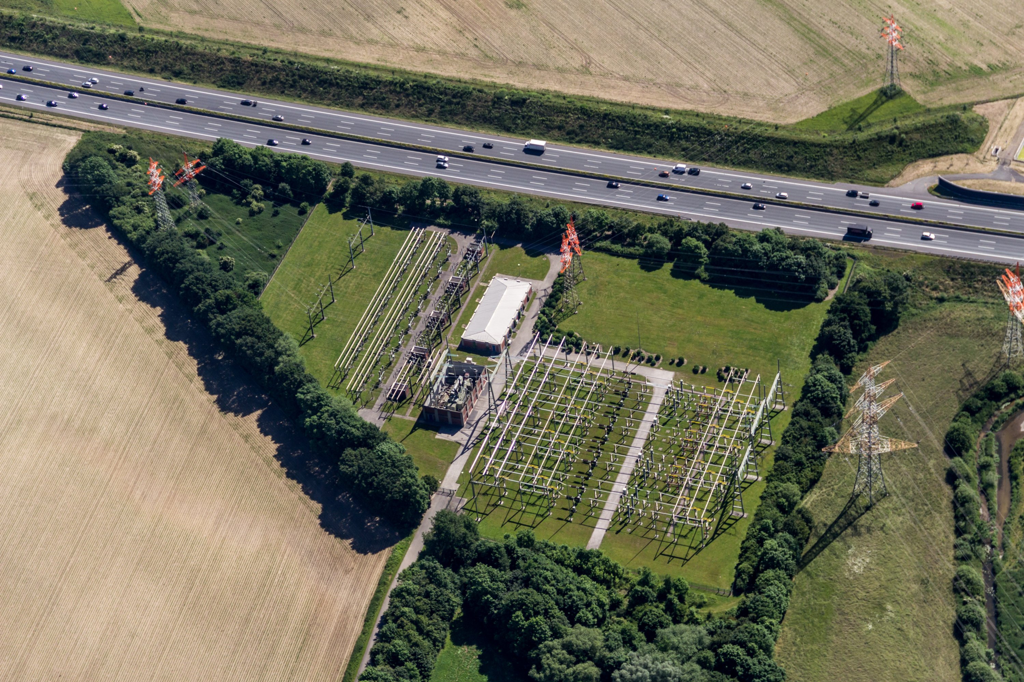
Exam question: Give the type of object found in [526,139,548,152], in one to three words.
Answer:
vehicle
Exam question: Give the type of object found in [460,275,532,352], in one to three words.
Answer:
building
